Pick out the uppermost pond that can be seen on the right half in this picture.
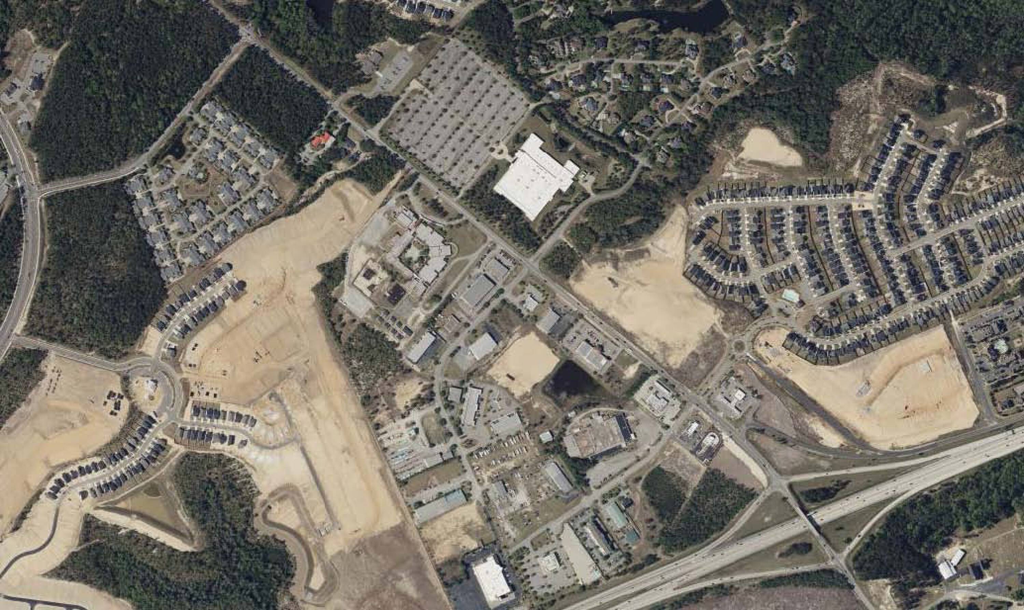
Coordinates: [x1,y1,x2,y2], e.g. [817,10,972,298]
[602,0,732,33]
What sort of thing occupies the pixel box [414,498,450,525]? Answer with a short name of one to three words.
building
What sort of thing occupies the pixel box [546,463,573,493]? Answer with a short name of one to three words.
building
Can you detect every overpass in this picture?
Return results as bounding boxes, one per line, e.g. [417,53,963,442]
[775,481,849,574]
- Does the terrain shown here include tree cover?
Yes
